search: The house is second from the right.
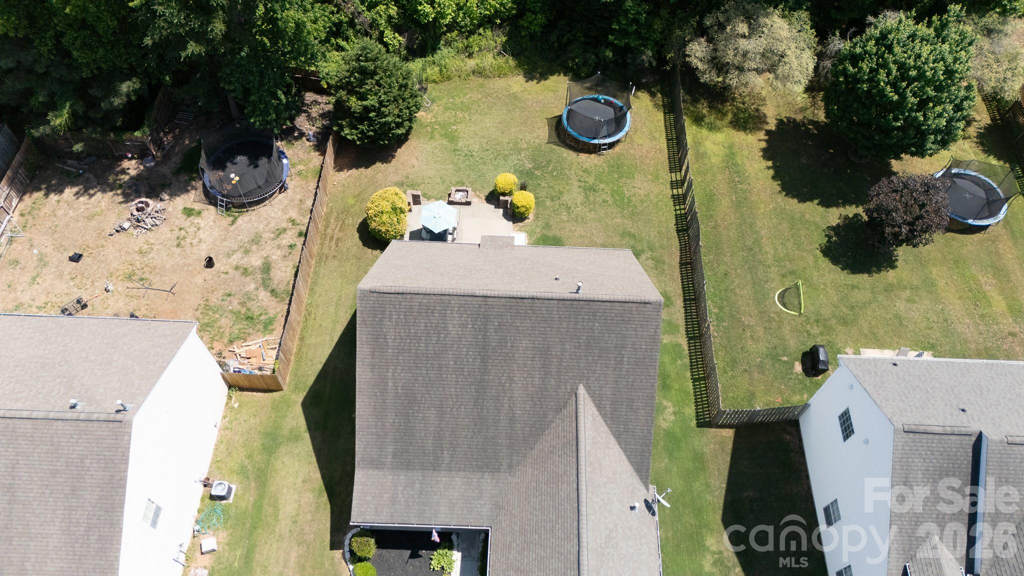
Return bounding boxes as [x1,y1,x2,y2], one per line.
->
[347,233,666,576]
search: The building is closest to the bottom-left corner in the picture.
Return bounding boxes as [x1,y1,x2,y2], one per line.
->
[0,314,227,576]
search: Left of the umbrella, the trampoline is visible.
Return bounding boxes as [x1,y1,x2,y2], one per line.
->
[199,123,292,214]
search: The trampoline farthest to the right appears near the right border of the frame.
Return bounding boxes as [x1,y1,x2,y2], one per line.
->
[927,151,1024,239]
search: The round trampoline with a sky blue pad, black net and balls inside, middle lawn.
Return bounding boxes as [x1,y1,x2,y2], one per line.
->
[559,71,634,161]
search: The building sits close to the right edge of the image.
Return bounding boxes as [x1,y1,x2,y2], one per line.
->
[798,355,1024,576]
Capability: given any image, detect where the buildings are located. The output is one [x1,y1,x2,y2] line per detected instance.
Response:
[0,314,227,576]
[798,355,1024,576]
[347,233,666,576]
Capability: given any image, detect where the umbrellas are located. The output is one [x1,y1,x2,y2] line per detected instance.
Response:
[420,201,457,234]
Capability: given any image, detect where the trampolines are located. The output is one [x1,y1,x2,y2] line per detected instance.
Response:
[559,71,634,161]
[927,151,1024,239]
[199,123,292,214]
